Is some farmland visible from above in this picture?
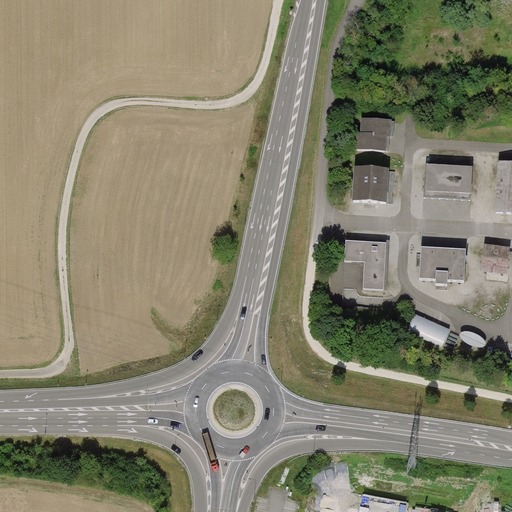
Yes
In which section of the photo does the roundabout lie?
bottom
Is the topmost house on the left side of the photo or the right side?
right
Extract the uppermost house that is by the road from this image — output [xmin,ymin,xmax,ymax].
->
[356,118,394,154]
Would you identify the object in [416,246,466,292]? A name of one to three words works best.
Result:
house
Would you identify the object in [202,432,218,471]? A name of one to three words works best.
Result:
vehicle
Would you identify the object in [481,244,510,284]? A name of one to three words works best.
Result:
house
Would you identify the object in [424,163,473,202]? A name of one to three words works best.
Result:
building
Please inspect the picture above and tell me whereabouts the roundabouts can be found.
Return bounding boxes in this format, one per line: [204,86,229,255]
[184,359,286,460]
